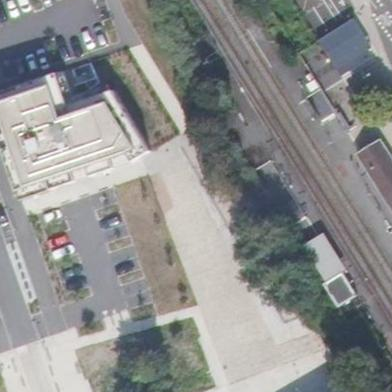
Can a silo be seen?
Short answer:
No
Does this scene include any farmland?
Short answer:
No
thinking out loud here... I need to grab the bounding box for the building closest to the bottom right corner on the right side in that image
[322,272,357,308]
